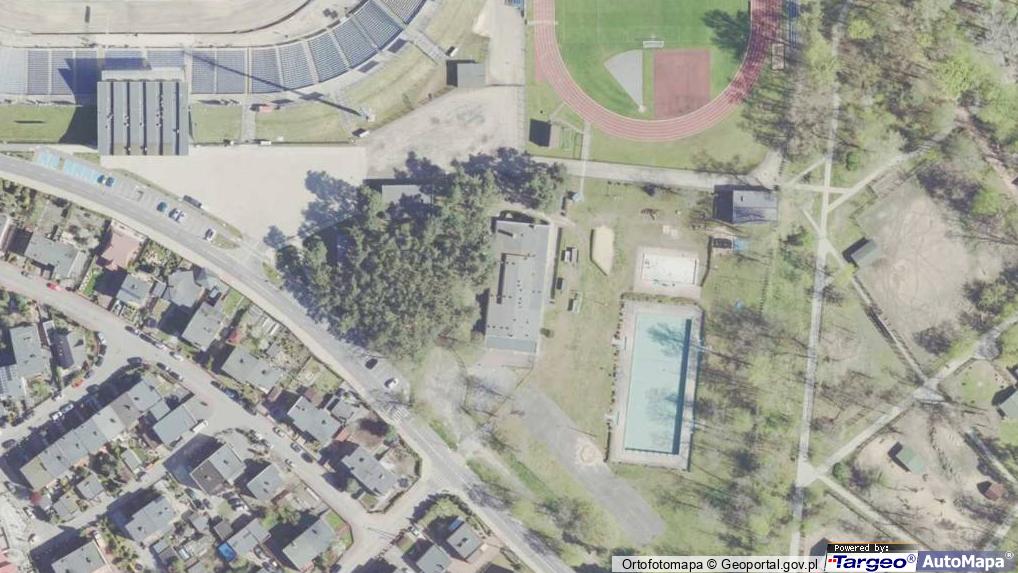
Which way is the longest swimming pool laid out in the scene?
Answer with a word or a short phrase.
up and down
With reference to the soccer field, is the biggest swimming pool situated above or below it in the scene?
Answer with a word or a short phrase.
below it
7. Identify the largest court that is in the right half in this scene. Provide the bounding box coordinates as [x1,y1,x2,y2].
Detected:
[653,51,710,118]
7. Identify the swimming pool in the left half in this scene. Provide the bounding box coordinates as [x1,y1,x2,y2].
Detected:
[218,543,236,562]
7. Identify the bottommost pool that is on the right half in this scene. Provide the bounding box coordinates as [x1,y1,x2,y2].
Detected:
[608,303,704,472]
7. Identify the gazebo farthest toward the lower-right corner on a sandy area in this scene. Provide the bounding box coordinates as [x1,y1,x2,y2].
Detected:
[987,483,1006,499]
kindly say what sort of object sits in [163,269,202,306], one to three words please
house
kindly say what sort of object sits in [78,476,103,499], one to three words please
building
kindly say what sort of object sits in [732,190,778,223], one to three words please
building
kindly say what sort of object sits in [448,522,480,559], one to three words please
house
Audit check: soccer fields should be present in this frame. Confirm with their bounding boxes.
[557,0,749,118]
